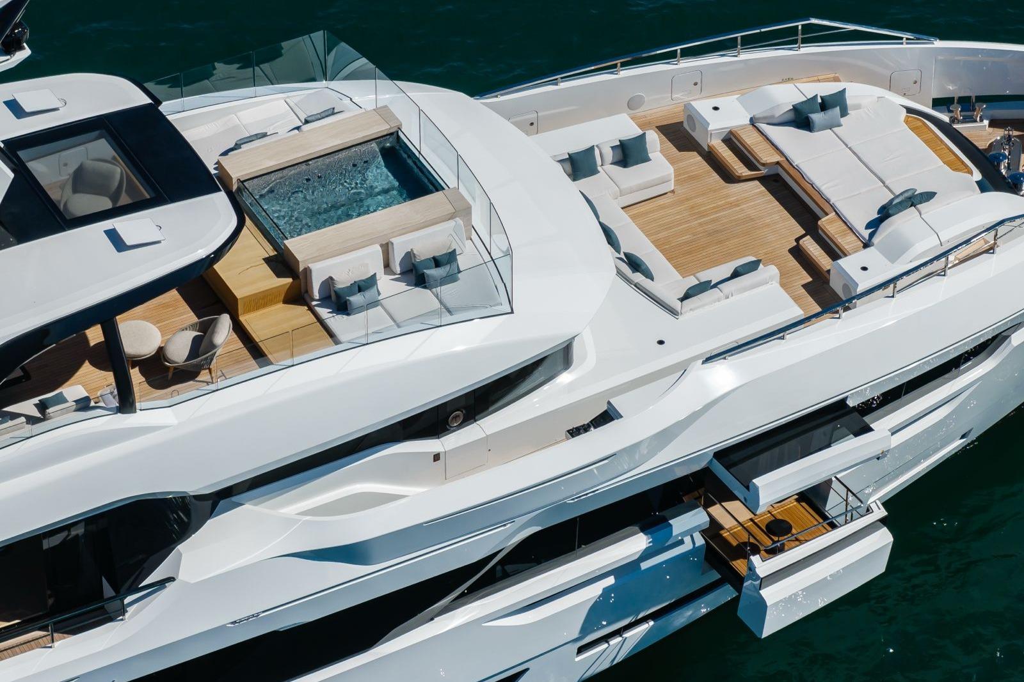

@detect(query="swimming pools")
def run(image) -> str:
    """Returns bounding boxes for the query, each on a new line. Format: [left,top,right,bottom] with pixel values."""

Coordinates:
[242,135,451,242]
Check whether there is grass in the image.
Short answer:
No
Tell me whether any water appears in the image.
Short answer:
Yes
